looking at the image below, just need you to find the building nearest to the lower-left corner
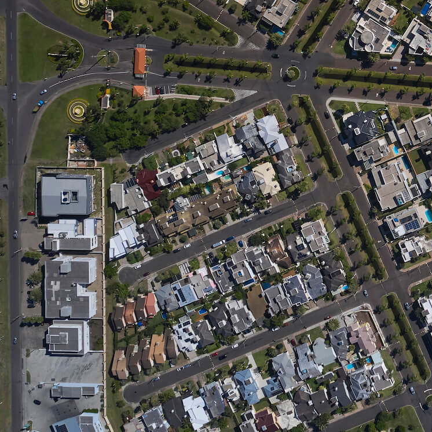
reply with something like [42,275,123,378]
[51,382,101,397]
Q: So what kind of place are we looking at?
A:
residential area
